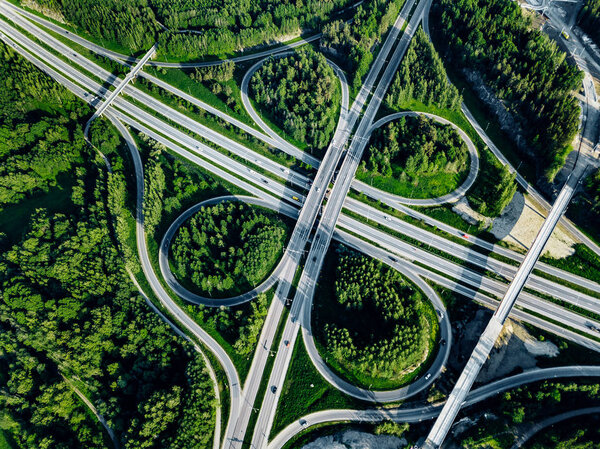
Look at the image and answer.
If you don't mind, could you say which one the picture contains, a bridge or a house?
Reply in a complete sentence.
There is a bridge in the scene.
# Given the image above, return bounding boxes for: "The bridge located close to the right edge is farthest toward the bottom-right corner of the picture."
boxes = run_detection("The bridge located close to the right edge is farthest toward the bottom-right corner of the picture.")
[420,176,579,448]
